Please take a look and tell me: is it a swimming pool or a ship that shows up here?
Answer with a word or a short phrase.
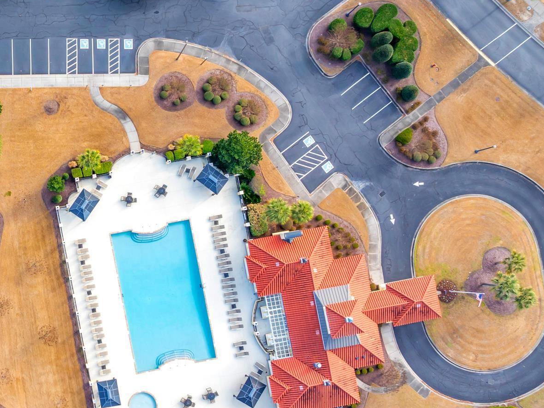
swimming pool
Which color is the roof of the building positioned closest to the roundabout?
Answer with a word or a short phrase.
red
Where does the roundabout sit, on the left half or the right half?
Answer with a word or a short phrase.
right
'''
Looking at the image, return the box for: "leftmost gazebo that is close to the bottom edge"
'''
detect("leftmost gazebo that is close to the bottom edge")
[95,376,121,408]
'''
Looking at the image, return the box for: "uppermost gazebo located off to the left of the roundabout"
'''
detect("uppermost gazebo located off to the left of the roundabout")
[192,163,228,196]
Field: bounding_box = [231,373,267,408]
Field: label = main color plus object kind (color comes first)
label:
blue gazebo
